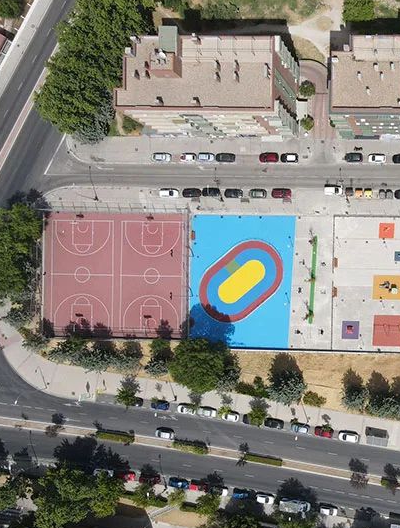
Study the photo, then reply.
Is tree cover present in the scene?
Yes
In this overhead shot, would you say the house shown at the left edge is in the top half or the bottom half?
top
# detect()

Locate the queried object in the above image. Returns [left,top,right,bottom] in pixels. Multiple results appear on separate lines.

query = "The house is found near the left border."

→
[0,35,21,69]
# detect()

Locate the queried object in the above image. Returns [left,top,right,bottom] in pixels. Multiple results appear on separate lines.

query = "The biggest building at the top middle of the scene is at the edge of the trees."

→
[113,25,302,144]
